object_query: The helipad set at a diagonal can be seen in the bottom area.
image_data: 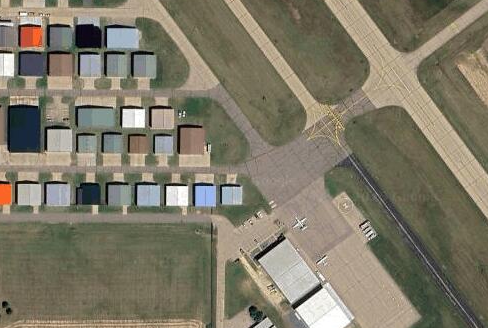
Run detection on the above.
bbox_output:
[334,192,373,242]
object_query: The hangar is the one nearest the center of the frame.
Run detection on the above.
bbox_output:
[222,186,242,204]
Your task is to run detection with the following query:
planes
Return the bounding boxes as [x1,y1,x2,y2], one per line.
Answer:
[292,217,306,230]
[316,256,327,266]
